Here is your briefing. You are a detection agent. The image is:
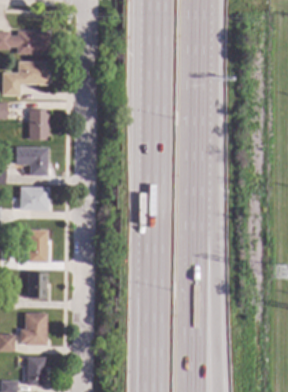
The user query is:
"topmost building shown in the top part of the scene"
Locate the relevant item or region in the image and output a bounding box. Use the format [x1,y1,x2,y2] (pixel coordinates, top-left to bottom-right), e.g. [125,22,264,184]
[0,32,51,56]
